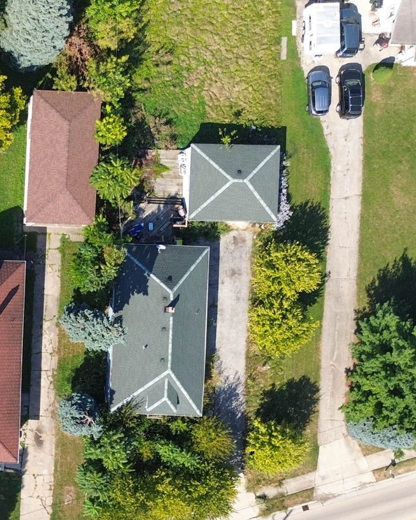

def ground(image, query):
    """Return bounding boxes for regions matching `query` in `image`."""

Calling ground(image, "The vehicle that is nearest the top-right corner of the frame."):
[338,8,365,57]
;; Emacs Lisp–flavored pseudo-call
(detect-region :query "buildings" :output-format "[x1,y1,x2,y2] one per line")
[385,0,416,67]
[23,88,103,227]
[179,142,281,225]
[104,241,210,418]
[0,259,26,471]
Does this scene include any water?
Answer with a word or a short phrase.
No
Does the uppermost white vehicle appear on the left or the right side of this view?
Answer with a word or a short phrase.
right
